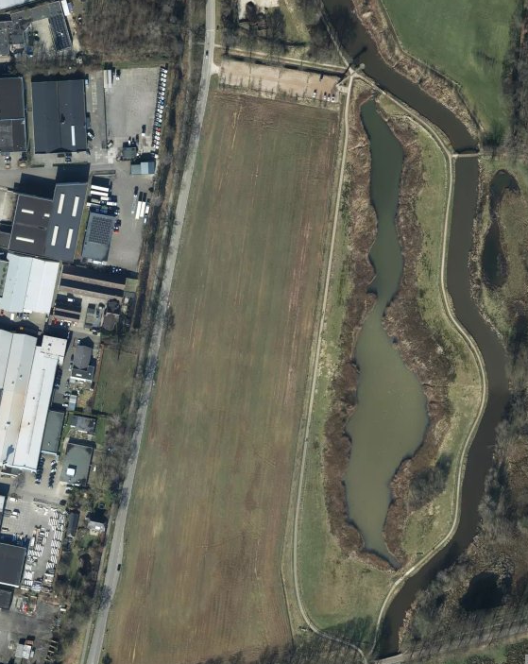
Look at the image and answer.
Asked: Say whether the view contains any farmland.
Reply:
Yes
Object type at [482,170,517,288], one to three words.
pond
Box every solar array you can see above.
[89,217,113,243]
[51,15,71,47]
